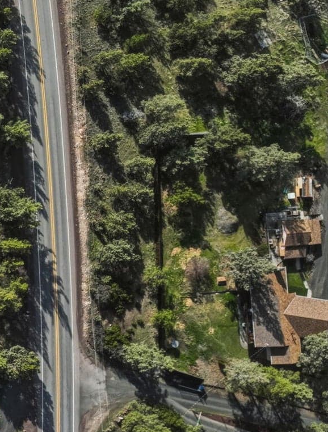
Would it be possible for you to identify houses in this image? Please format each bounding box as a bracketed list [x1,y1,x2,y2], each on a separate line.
[270,219,322,260]
[241,267,328,365]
